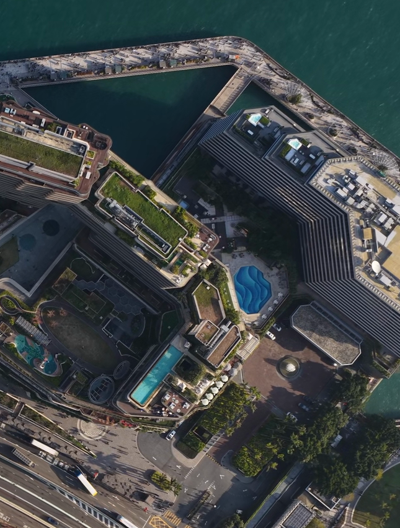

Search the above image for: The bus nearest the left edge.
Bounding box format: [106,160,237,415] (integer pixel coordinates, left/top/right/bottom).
[8,446,37,469]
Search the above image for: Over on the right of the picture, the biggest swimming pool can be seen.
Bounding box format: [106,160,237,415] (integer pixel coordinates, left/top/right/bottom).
[216,254,290,328]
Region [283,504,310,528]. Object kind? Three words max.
solar panel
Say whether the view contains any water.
Yes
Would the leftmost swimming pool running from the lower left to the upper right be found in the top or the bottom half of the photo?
bottom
